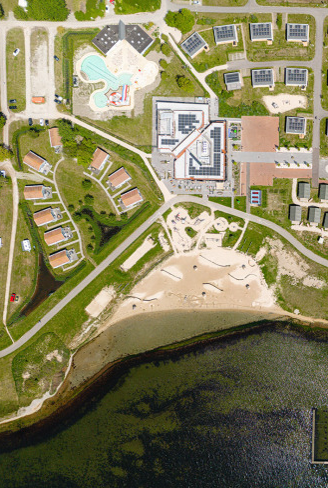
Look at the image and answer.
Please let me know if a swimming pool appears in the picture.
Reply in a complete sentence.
Yes, there is a swimming pool in the image.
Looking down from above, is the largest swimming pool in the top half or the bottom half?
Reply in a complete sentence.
The largest swimming pool sits in the top half of the picture.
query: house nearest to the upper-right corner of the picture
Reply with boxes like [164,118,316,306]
[287,23,309,48]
